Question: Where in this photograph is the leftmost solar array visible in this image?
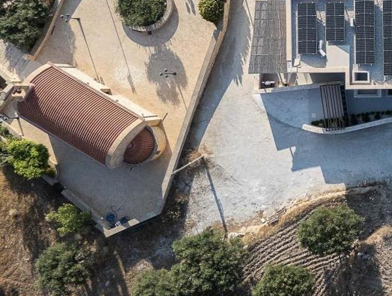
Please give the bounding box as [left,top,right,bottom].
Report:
[298,1,319,56]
